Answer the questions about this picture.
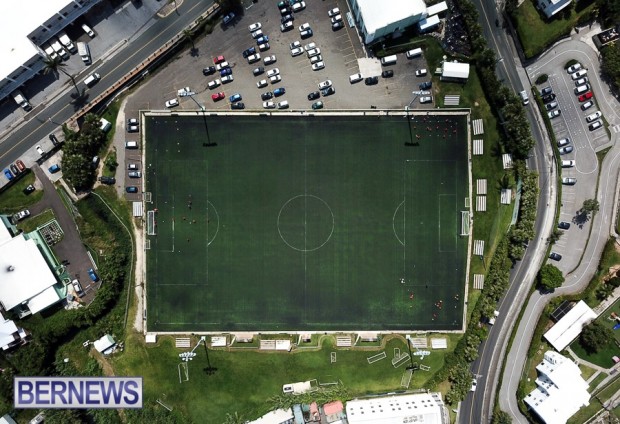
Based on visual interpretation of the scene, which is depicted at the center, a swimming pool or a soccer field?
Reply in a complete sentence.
There is a soccer field at the center.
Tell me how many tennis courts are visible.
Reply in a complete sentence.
The count of tennis courts is 0.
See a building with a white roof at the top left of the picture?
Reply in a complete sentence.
Yes, I can see a building with a white roof at the top left of the picture.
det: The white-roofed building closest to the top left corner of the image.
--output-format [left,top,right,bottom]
[0,0,105,104]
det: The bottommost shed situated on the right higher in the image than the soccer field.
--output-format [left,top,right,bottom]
[441,62,470,81]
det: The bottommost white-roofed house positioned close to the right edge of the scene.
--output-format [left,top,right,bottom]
[515,346,591,424]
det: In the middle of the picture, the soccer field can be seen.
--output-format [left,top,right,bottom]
[147,115,466,330]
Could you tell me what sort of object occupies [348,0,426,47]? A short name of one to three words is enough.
building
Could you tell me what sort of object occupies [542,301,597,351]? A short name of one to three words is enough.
house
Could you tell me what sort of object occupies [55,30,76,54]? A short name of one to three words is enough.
vehicle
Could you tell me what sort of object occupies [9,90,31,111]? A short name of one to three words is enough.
vehicle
